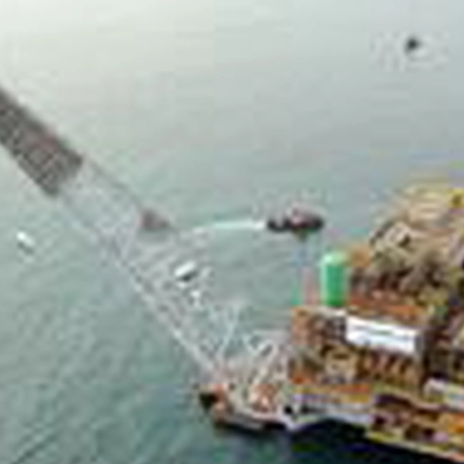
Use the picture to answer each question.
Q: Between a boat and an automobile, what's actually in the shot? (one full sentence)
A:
I can see a boat in this picture.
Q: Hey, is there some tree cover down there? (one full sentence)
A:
No, there's no tree cover in this view.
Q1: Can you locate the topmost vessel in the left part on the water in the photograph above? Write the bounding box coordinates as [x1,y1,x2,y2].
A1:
[136,203,172,227]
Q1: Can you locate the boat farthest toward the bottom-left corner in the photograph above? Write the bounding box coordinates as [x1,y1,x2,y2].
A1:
[16,230,33,249]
